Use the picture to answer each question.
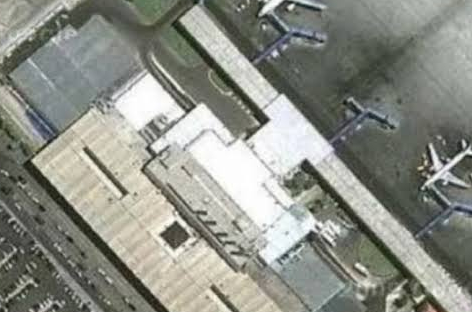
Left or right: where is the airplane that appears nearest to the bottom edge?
right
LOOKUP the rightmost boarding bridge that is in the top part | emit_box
[330,95,398,144]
